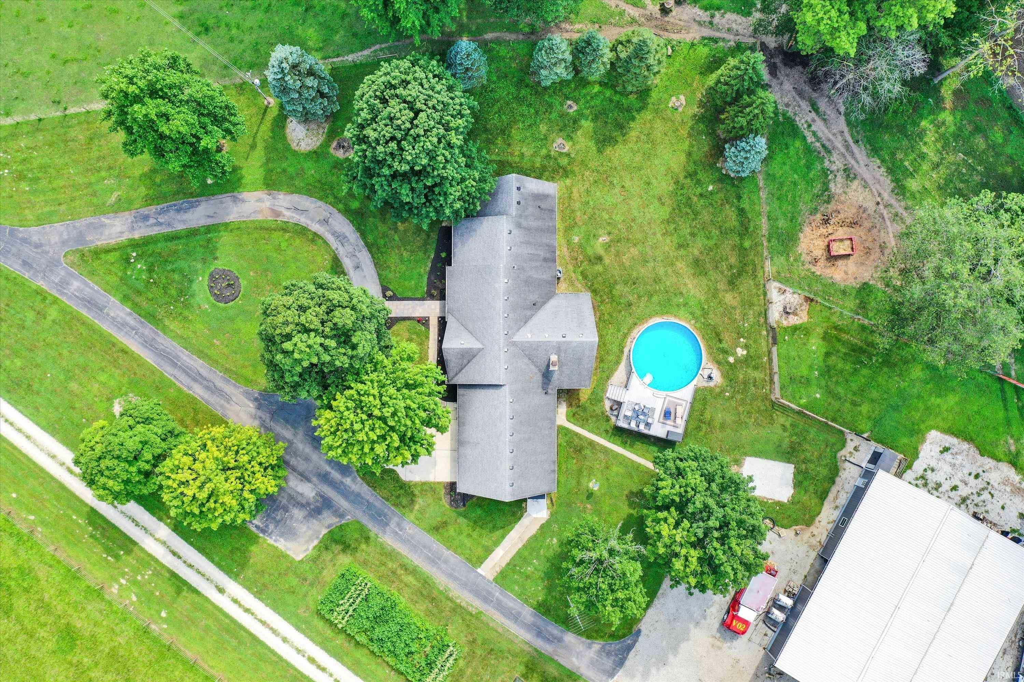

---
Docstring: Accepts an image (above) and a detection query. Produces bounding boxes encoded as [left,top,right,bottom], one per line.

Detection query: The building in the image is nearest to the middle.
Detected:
[442,173,599,502]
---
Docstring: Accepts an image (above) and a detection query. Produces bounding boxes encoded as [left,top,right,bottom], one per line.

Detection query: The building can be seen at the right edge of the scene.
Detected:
[760,465,1024,682]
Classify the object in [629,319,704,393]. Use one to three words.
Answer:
swimming pool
